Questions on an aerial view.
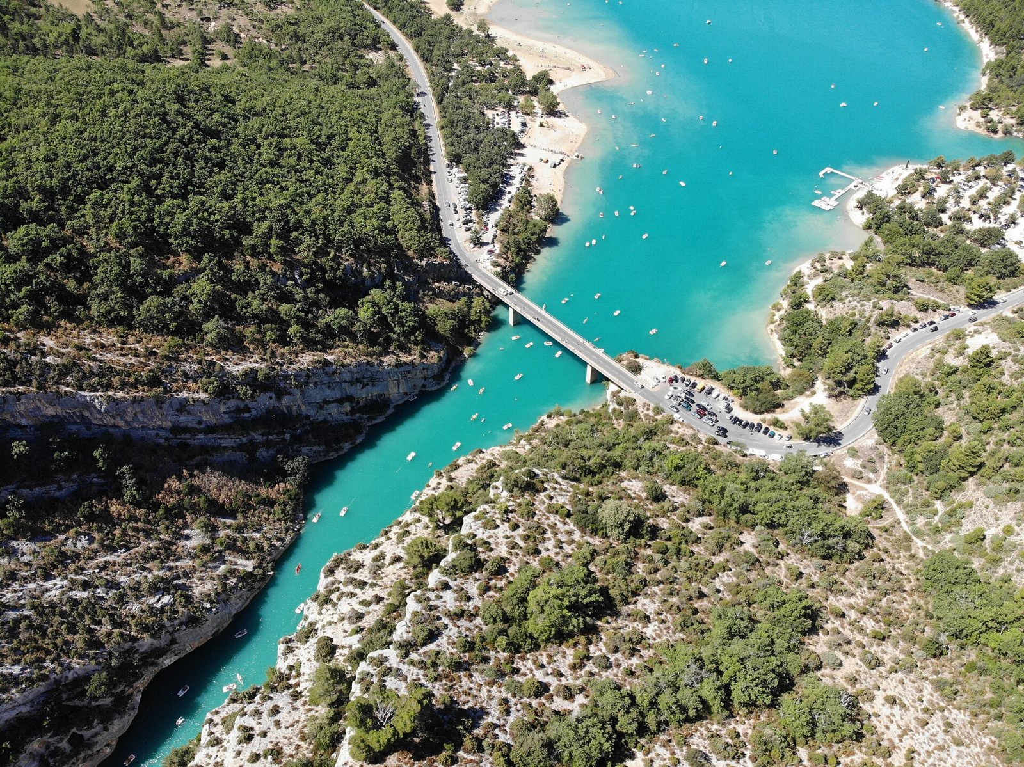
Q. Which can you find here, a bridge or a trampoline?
bridge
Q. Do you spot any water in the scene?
Yes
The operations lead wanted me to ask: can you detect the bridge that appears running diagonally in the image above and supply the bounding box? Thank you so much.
[469,265,653,400]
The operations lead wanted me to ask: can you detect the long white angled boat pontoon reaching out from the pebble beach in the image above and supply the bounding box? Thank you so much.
[816,167,867,209]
